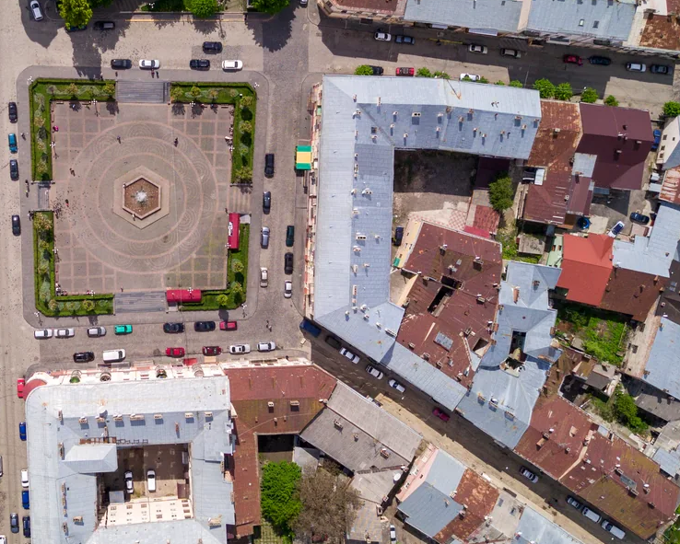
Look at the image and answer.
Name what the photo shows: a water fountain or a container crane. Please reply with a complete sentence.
The one in the frame is a water fountain.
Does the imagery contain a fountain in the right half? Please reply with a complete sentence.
No, I see no fountain in the right half.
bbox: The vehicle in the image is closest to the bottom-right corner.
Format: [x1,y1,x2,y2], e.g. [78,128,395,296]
[600,519,624,539]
